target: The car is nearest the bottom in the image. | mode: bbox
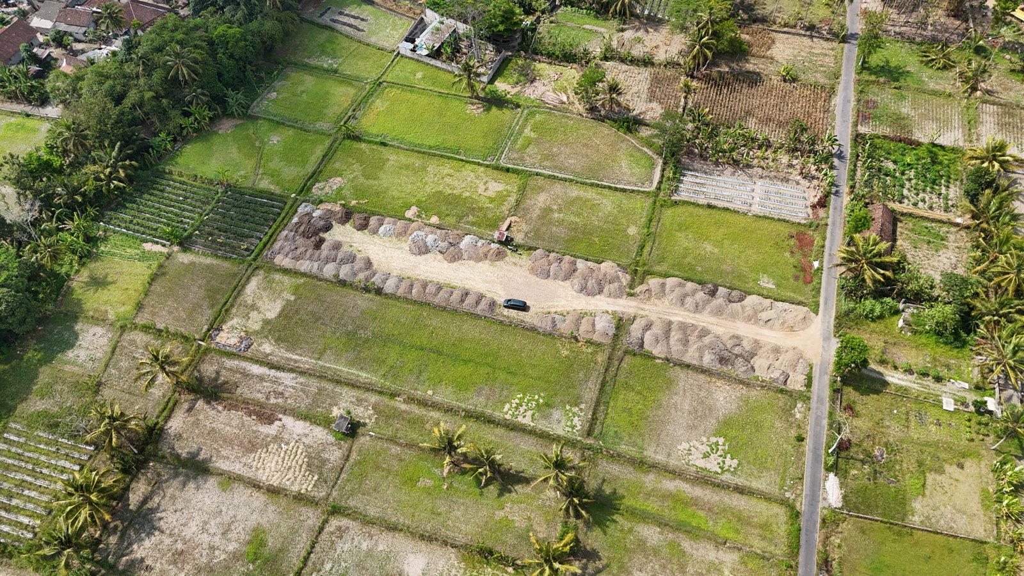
[504,298,527,311]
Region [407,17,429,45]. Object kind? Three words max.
shed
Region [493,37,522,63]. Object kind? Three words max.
building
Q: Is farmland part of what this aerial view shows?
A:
Yes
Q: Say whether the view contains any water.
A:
No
